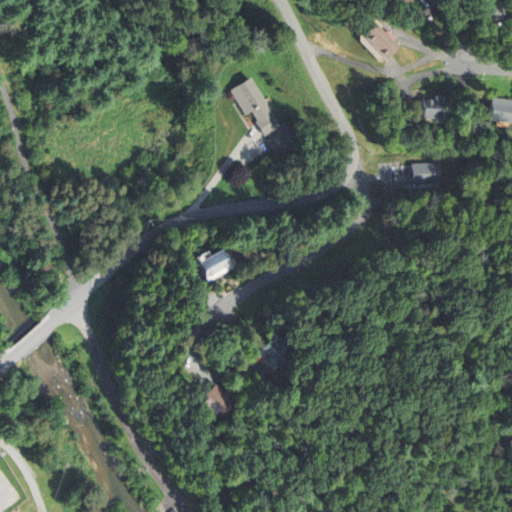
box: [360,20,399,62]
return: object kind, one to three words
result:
house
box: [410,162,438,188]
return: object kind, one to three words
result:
building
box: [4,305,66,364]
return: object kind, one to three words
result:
bridge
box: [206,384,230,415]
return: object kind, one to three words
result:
house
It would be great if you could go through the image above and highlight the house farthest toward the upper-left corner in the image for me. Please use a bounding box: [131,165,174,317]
[230,77,278,134]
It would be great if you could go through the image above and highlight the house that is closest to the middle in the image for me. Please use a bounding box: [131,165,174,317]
[200,250,233,282]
